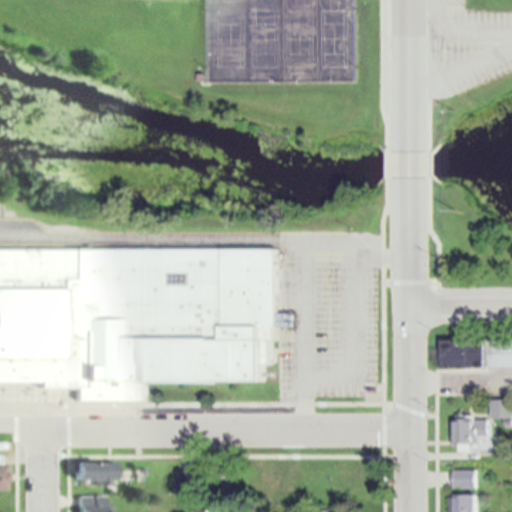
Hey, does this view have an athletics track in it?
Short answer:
No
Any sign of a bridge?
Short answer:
Yes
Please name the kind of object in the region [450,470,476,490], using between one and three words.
house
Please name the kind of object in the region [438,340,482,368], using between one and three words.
house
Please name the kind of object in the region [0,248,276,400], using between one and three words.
building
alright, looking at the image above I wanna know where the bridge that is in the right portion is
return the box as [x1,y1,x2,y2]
[377,144,442,187]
